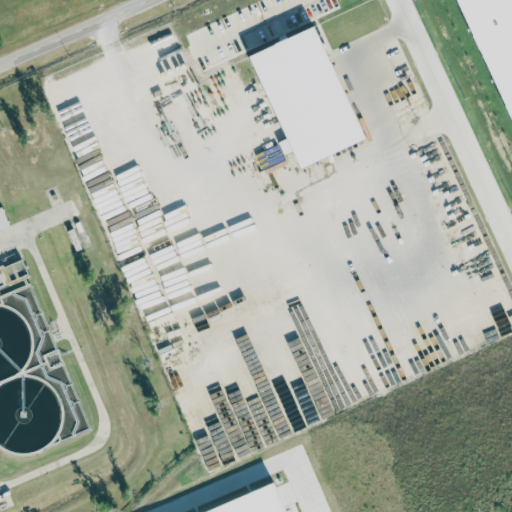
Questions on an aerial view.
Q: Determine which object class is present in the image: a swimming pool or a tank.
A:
tank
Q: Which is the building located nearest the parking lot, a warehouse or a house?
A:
warehouse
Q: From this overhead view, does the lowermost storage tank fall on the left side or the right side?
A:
left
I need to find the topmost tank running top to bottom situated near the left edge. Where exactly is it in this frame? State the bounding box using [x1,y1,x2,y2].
[0,303,32,383]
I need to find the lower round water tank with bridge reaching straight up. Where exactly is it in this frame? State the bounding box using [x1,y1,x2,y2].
[0,374,64,456]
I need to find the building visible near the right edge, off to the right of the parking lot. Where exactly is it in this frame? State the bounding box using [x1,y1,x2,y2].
[458,0,512,122]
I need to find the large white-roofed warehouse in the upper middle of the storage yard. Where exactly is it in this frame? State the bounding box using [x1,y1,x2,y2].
[248,22,365,168]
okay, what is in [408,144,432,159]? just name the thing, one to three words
vehicle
